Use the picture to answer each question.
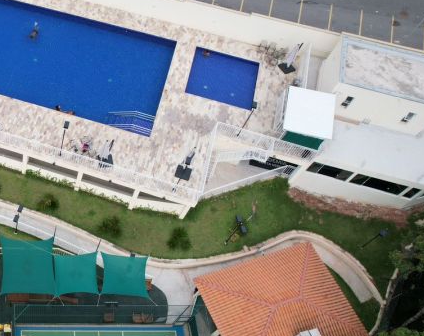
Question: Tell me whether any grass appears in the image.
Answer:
Yes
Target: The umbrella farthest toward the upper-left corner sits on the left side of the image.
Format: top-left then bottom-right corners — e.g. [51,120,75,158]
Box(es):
[98,135,118,164]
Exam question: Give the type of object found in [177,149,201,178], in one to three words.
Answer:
umbrella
